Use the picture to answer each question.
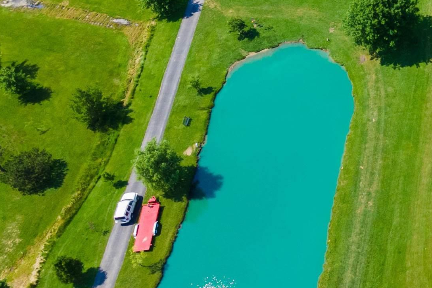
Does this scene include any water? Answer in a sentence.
Yes, water shows up in the scene.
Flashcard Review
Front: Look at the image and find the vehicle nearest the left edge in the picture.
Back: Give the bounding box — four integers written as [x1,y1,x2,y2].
[111,188,140,232]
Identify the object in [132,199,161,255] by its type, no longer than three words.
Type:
trailer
